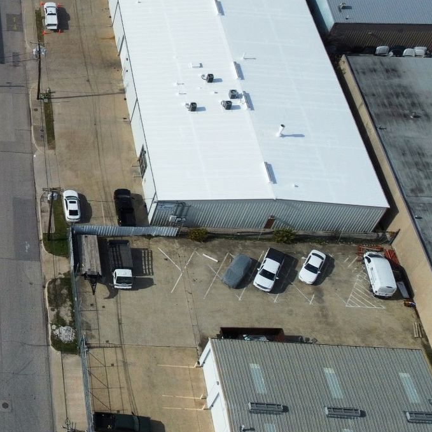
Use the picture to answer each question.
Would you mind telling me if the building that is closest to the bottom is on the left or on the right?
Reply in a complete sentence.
The building that is closest to the bottom sits on the right side.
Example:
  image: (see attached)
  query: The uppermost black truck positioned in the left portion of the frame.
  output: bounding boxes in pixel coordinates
[112,186,138,222]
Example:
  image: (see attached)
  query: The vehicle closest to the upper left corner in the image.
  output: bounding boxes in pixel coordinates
[43,2,60,32]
